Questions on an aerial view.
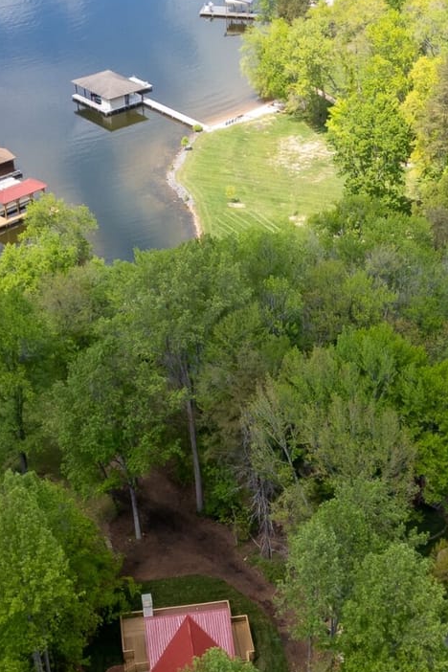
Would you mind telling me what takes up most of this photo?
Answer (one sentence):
What you mostly see from above here is trees.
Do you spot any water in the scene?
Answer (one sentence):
Yes, water can be seen from above here.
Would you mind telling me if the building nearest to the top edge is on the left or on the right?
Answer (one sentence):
You can find the building nearest to the top edge on the left side of the picture.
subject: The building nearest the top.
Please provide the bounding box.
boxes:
[58,76,209,133]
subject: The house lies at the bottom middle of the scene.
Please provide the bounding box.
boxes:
[111,603,246,672]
